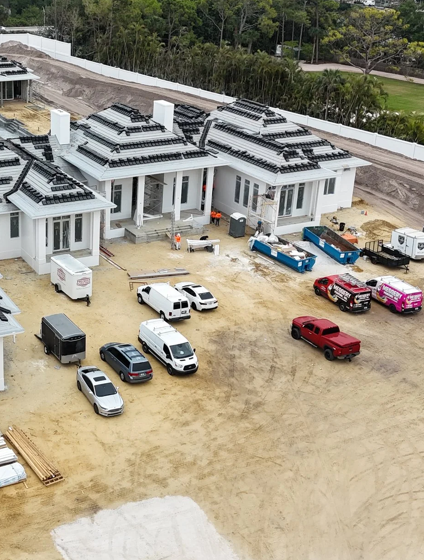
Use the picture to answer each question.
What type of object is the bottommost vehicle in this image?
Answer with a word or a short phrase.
automobile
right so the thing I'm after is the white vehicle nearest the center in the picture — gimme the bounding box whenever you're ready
[172,280,215,309]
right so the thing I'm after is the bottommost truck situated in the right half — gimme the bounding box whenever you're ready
[285,317,364,363]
